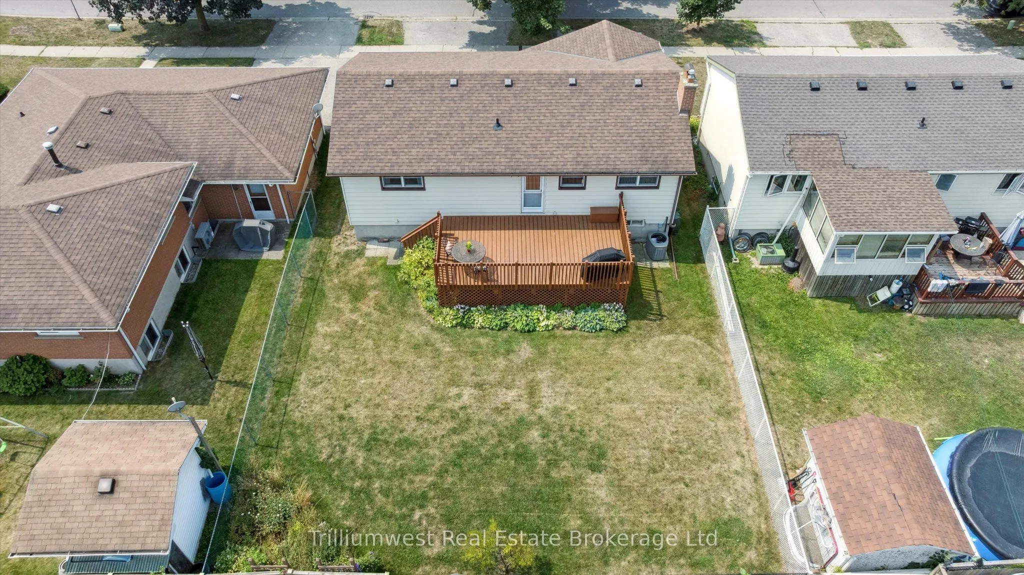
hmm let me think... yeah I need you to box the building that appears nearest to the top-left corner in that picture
[0,67,334,374]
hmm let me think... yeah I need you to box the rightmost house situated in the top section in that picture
[695,52,1024,297]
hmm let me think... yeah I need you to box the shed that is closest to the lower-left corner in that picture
[10,418,215,573]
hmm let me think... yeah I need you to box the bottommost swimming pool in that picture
[932,426,1024,564]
